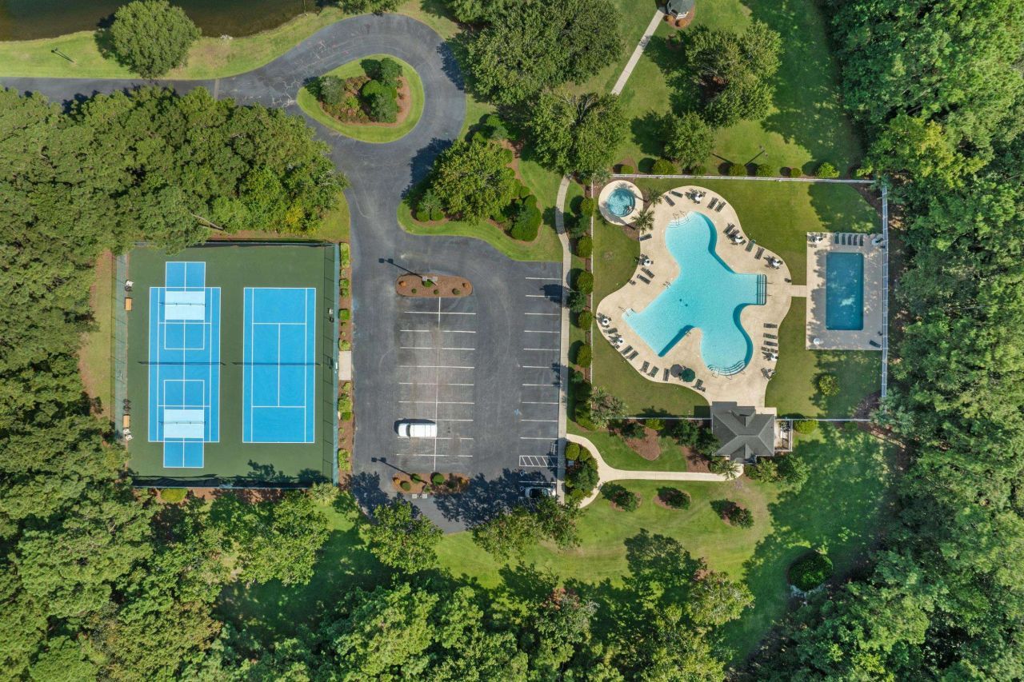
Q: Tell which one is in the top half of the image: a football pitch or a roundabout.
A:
roundabout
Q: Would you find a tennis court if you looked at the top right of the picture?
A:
No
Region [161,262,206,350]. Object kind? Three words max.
sports court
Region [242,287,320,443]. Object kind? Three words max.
tennis court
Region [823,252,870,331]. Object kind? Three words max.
swimming pool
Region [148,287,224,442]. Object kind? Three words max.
tennis court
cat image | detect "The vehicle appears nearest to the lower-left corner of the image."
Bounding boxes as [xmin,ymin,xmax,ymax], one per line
[397,422,436,438]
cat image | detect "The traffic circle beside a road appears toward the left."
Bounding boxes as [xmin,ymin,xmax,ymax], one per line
[297,54,424,143]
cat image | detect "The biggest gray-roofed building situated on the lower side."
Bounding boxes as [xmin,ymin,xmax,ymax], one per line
[710,410,775,462]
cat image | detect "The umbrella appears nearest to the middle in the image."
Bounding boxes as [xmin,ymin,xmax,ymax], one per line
[681,368,696,382]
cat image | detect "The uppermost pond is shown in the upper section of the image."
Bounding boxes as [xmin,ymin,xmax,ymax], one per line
[0,0,319,41]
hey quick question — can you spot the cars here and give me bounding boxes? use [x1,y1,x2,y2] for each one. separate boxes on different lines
[397,422,436,438]
[525,486,556,500]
